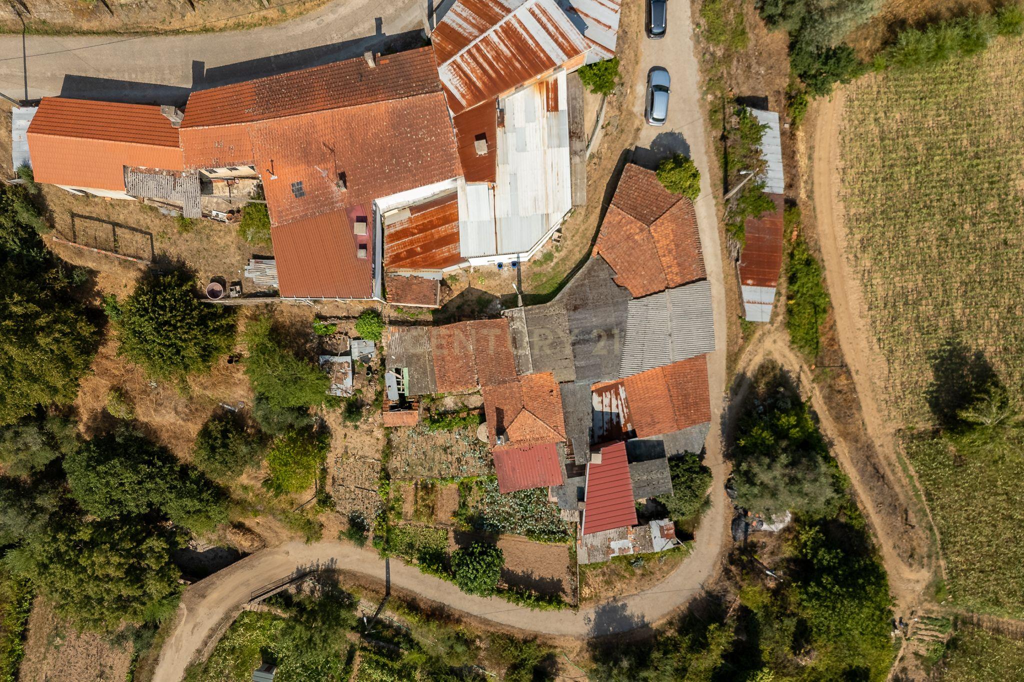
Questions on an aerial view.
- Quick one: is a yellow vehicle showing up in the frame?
No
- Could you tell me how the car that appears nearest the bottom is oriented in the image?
up and down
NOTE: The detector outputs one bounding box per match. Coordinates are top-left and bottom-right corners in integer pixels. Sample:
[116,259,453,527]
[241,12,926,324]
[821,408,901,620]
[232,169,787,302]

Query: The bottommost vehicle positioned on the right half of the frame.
[642,66,674,128]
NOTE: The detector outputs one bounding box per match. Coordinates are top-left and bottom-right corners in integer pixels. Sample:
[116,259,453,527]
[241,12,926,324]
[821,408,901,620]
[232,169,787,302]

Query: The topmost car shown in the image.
[642,0,670,37]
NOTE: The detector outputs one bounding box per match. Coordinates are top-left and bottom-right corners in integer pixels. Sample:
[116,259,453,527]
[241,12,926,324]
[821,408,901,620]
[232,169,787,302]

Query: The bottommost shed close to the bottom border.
[252,653,287,682]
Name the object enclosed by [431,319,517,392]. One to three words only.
house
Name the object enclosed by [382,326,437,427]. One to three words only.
shed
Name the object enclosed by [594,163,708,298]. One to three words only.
house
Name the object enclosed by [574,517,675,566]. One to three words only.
shed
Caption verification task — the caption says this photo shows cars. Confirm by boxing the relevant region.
[642,66,674,128]
[642,0,670,37]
